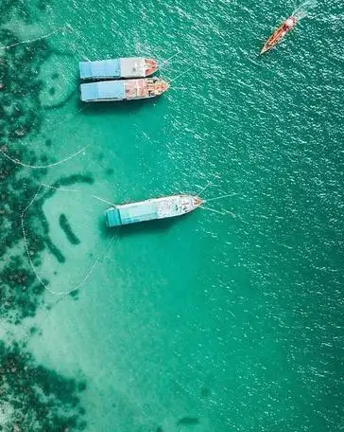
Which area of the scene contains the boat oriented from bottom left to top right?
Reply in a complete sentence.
The boat oriented from bottom left to top right appears toward the top right of the photo.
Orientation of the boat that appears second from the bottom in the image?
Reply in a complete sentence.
In this picture, the boat that appears second from the bottom lies from side to side.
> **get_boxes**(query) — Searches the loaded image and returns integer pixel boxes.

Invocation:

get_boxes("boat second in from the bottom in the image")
[55,70,190,125]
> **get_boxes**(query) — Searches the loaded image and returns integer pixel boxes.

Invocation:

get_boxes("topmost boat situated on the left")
[79,53,179,79]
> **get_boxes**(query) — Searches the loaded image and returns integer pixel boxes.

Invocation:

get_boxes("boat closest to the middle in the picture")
[92,184,238,273]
